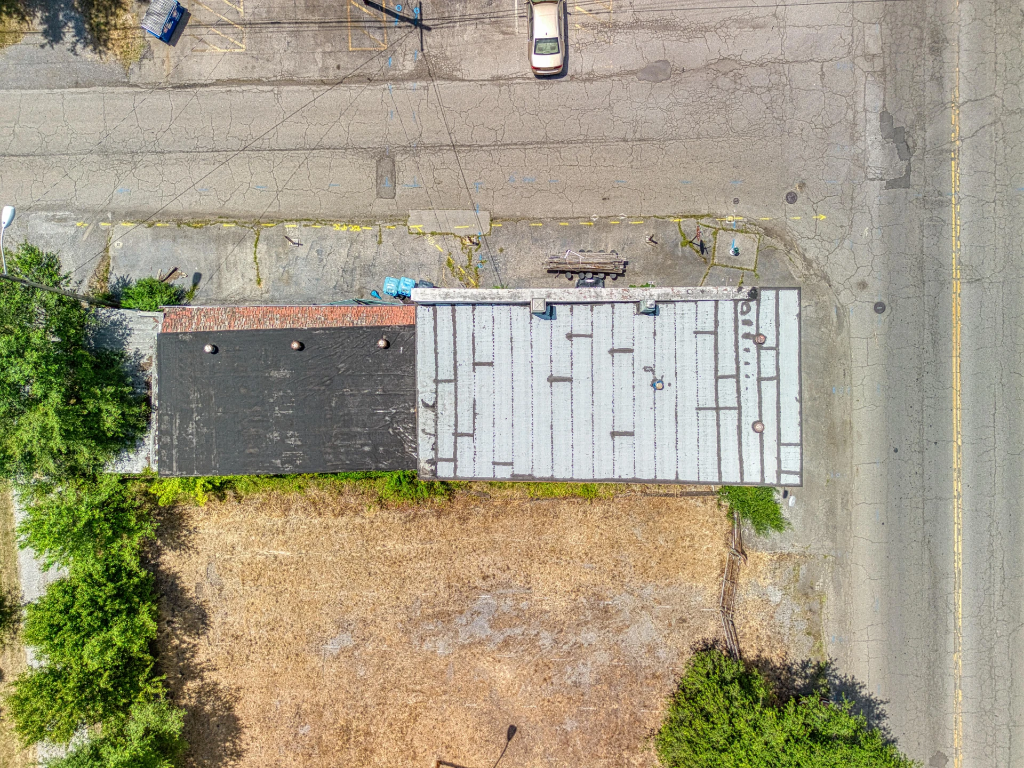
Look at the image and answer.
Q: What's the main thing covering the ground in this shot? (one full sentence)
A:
For the most part, this view shows paved ground.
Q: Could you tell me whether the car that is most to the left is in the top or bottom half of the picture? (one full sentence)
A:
The top half of the photo is where the car that is most to the left is.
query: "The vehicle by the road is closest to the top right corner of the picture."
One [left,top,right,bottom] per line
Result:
[526,0,569,71]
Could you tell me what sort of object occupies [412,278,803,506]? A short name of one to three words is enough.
building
